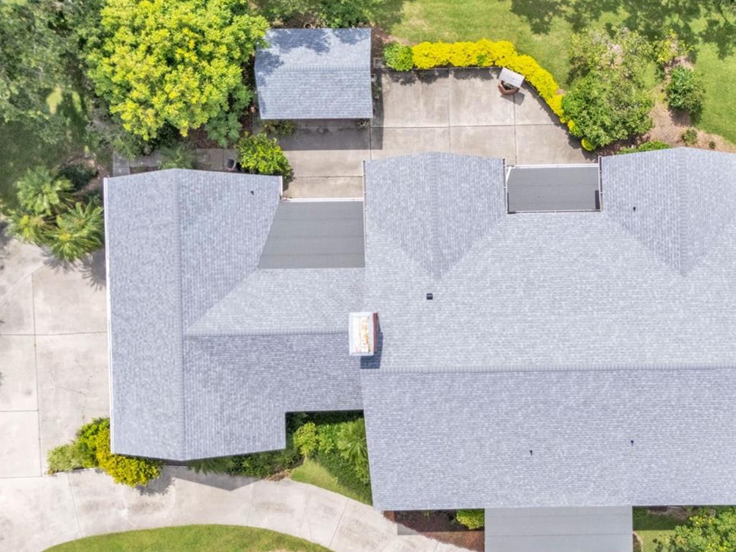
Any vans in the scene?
No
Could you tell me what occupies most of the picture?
buildings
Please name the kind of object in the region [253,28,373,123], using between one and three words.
shed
